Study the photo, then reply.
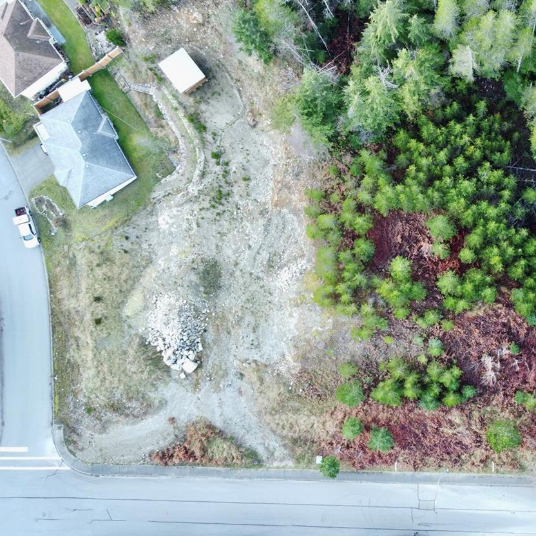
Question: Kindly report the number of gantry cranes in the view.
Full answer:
No gantry cranes are visible.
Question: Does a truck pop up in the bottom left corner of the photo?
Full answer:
No, in the bottom left corner of the photo there is no truck.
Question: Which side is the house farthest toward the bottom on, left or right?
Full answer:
The house farthest toward the bottom is on the left side of the image.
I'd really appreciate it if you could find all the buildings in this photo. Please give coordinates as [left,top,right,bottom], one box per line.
[0,0,73,100]
[33,91,140,209]
[159,47,212,97]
